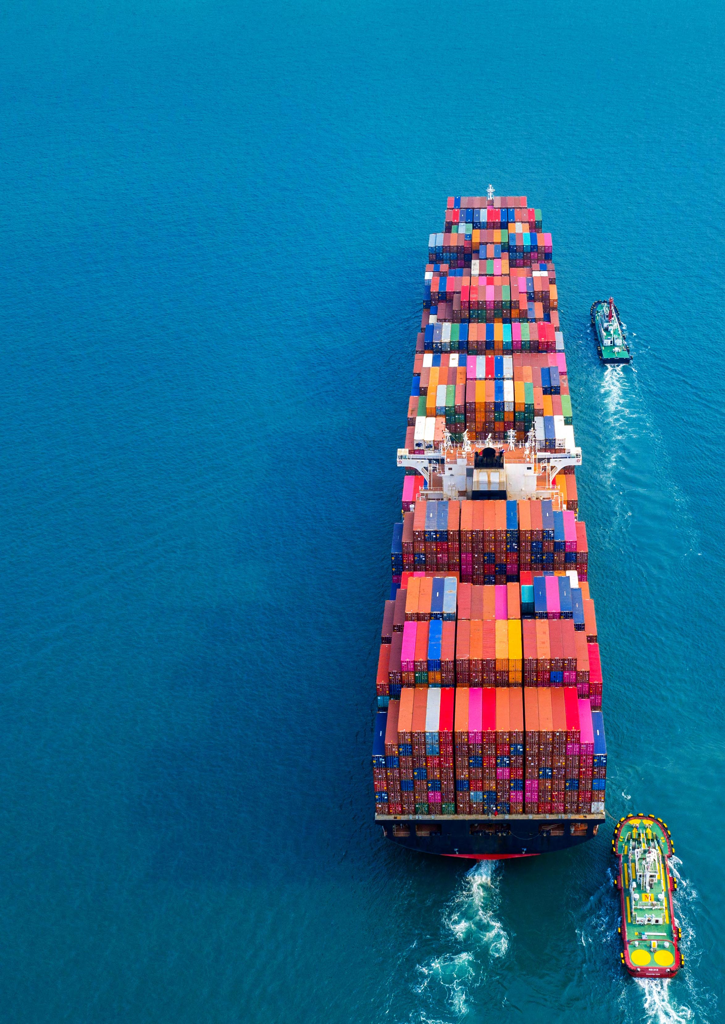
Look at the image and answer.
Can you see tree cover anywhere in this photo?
No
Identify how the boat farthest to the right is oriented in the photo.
up and down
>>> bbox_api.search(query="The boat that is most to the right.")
[612,812,684,978]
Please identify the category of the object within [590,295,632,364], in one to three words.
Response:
boat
